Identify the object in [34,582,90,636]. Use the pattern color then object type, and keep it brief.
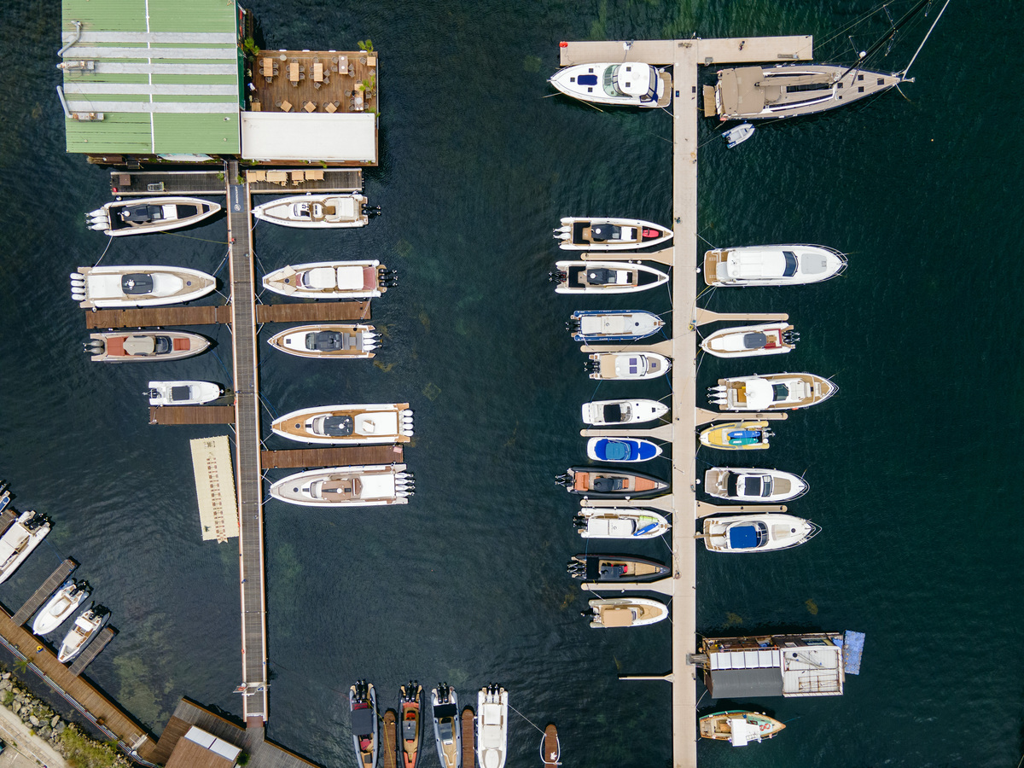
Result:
white boat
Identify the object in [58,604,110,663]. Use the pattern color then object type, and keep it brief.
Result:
white boat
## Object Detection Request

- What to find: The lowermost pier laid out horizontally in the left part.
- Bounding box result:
[261,445,403,468]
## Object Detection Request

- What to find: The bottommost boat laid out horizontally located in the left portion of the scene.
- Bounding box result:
[269,464,415,506]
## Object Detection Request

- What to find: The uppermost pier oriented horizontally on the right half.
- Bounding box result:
[580,247,673,266]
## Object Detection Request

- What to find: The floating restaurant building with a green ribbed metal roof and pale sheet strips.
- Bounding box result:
[55,0,258,176]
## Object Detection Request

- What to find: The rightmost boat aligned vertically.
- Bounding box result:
[478,682,508,768]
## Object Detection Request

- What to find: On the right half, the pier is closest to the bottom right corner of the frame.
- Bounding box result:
[843,628,866,675]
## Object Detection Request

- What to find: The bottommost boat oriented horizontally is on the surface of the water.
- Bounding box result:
[697,708,788,746]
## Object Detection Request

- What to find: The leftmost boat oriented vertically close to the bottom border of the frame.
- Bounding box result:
[351,678,379,768]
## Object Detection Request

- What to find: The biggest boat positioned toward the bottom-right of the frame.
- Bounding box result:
[697,629,845,698]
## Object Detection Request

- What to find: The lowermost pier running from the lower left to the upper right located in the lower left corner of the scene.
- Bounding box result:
[72,626,118,673]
